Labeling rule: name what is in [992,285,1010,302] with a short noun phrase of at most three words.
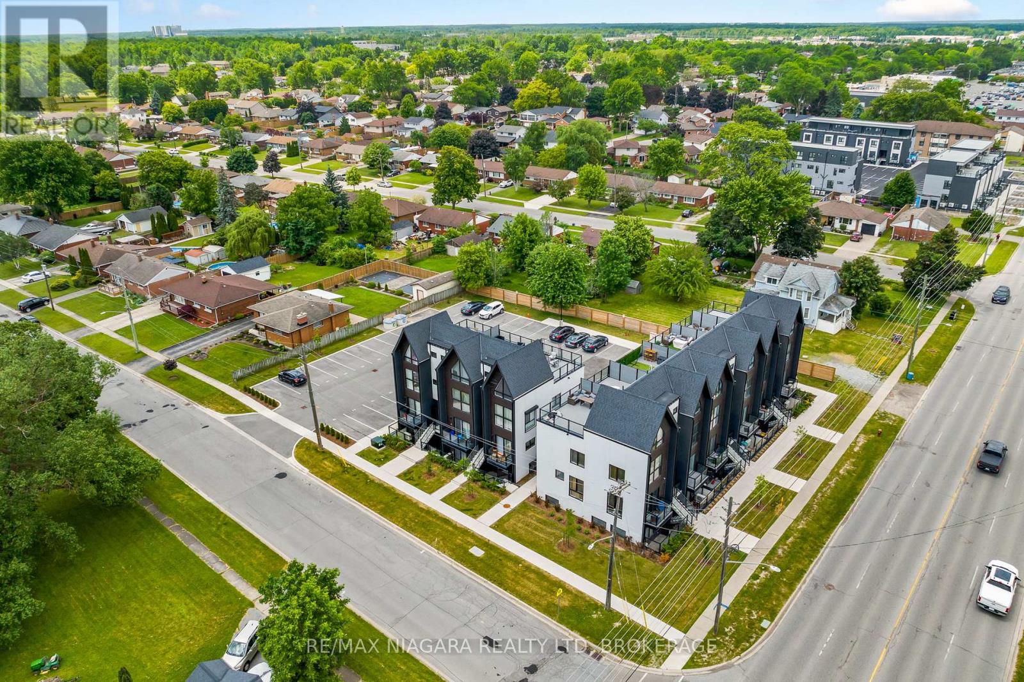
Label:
car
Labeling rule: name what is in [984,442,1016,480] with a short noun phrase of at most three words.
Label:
truck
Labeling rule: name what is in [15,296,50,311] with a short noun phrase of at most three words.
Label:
car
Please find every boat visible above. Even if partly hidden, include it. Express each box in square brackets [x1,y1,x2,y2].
[83,222,113,236]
